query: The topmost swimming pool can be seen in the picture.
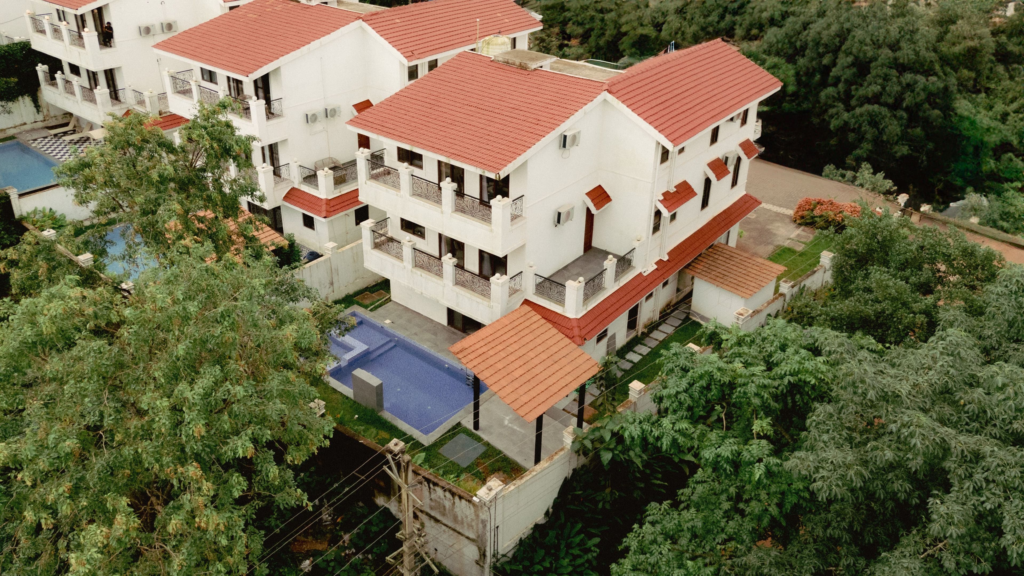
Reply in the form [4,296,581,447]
[0,136,81,207]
